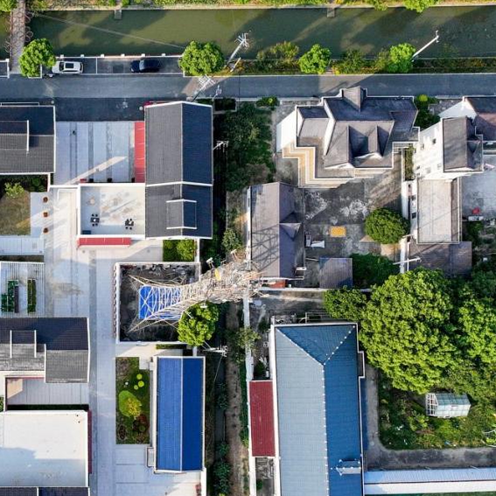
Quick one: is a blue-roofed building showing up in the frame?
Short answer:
Yes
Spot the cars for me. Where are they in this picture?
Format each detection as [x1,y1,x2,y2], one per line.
[51,61,83,75]
[130,58,160,74]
